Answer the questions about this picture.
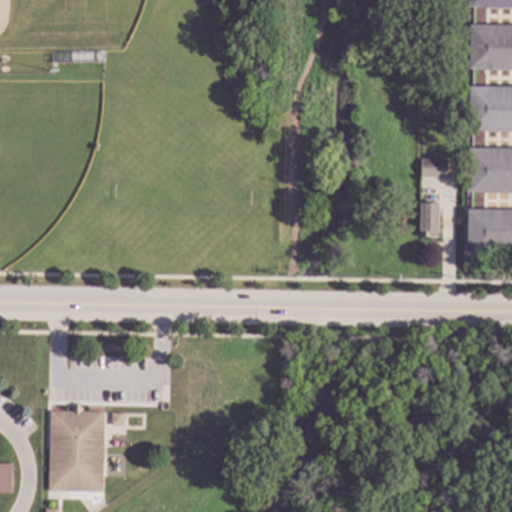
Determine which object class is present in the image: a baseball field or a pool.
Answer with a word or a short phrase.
baseball field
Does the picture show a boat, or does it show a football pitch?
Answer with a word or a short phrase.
football pitch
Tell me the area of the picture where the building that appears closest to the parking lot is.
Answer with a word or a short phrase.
bottom left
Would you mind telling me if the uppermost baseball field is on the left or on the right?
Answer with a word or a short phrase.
left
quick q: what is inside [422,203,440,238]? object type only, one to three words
shed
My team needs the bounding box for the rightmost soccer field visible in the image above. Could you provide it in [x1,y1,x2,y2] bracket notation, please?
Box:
[117,158,251,236]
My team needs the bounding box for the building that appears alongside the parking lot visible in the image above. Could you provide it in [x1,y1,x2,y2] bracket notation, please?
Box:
[49,404,104,491]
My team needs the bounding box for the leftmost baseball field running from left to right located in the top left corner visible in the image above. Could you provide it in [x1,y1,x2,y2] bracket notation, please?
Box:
[0,0,148,52]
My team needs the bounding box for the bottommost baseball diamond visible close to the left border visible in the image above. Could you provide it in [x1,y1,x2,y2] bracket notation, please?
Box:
[0,80,105,271]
